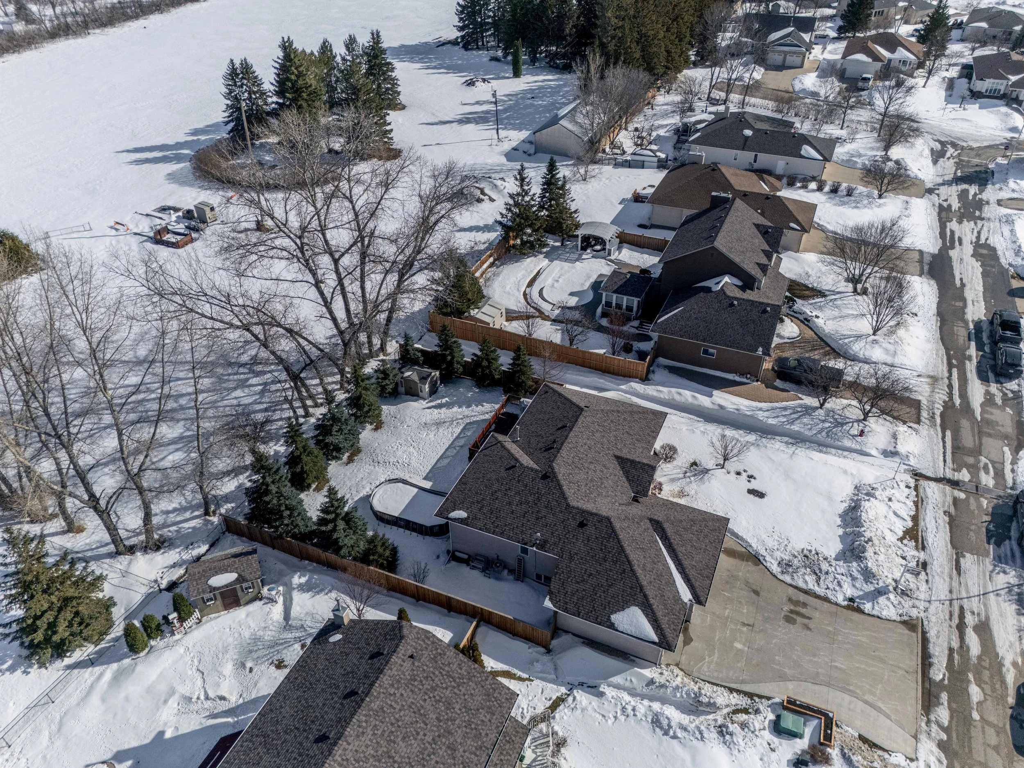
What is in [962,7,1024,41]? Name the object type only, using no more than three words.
house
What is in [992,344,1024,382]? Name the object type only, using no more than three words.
car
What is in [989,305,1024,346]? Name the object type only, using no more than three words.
truck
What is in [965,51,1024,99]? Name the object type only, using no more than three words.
house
